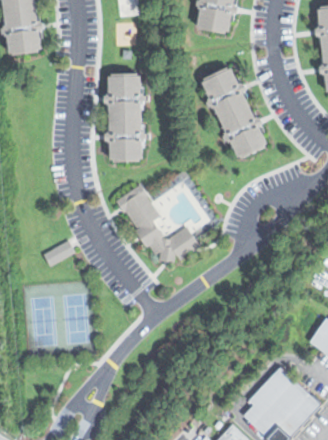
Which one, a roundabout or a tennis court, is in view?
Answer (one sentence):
This aerial view contains a tennis court.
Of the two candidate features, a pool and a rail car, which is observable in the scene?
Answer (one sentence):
I can see a pool in this picture.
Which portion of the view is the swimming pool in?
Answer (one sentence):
You can find the swimming pool in the center area of the picture.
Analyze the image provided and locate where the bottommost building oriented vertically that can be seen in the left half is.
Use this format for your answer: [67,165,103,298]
[105,74,146,162]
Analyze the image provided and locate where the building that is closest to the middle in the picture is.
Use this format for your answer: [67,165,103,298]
[118,184,198,264]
